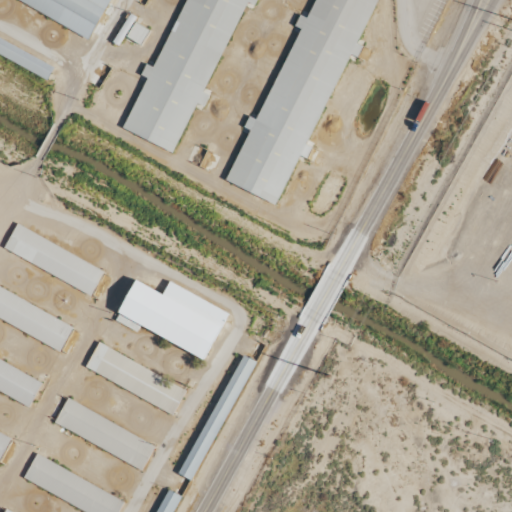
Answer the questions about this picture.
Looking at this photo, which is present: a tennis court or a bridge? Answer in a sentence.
Looking from above, you can make out a bridge.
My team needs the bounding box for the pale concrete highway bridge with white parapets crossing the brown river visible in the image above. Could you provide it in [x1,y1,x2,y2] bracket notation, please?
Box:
[262,226,372,396]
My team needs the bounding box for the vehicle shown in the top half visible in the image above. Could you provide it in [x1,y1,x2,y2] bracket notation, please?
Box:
[408,101,427,130]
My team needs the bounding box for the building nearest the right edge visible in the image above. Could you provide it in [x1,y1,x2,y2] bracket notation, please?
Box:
[226,0,377,204]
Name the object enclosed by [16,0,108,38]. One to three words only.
barn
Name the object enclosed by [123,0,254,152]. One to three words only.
barn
